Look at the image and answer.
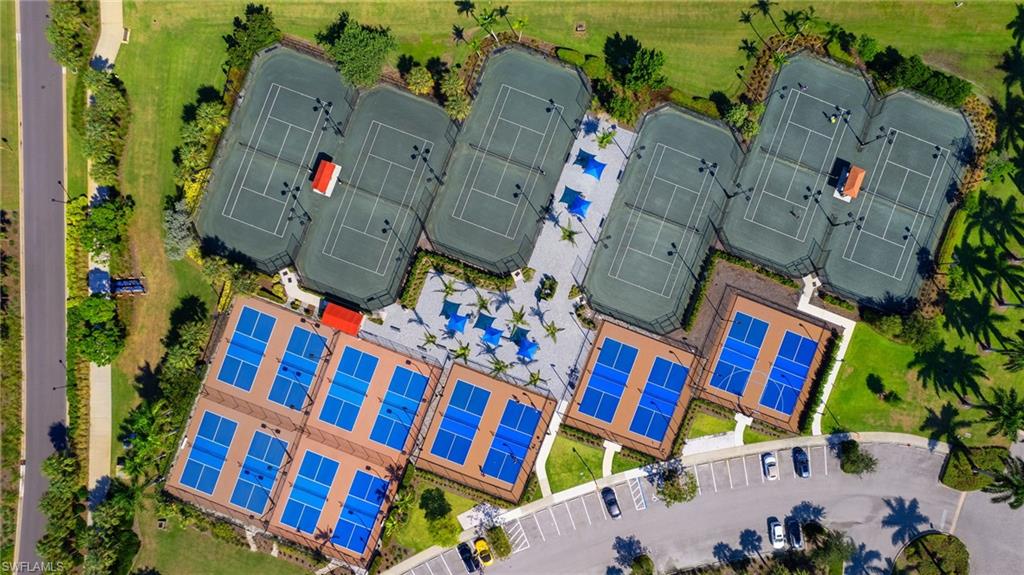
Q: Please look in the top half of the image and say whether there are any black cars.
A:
No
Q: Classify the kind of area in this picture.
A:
sports ground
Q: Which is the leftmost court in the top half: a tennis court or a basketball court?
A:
tennis court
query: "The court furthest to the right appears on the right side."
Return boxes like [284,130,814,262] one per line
[819,87,973,307]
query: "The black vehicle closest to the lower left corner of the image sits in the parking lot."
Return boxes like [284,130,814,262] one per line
[457,543,474,574]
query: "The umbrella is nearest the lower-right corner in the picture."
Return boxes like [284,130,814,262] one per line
[517,337,540,360]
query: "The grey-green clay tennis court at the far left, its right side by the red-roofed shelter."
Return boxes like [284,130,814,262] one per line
[195,45,356,273]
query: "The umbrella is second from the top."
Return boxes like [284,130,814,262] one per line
[569,194,592,217]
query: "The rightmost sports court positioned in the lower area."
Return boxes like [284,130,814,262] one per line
[759,330,818,416]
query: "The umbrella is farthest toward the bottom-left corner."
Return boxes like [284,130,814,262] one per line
[447,311,469,334]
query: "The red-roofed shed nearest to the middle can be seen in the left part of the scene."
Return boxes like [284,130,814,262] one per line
[322,302,370,335]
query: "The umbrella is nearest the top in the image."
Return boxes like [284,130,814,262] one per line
[583,157,606,180]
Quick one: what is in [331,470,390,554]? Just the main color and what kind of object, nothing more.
blue sports court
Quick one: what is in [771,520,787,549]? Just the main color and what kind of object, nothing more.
white car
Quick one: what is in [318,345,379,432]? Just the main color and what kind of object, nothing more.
blue sports court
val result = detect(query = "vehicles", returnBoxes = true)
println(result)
[457,543,474,574]
[789,518,807,552]
[604,489,621,520]
[765,455,780,482]
[771,520,787,549]
[795,449,812,479]
[476,539,493,567]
